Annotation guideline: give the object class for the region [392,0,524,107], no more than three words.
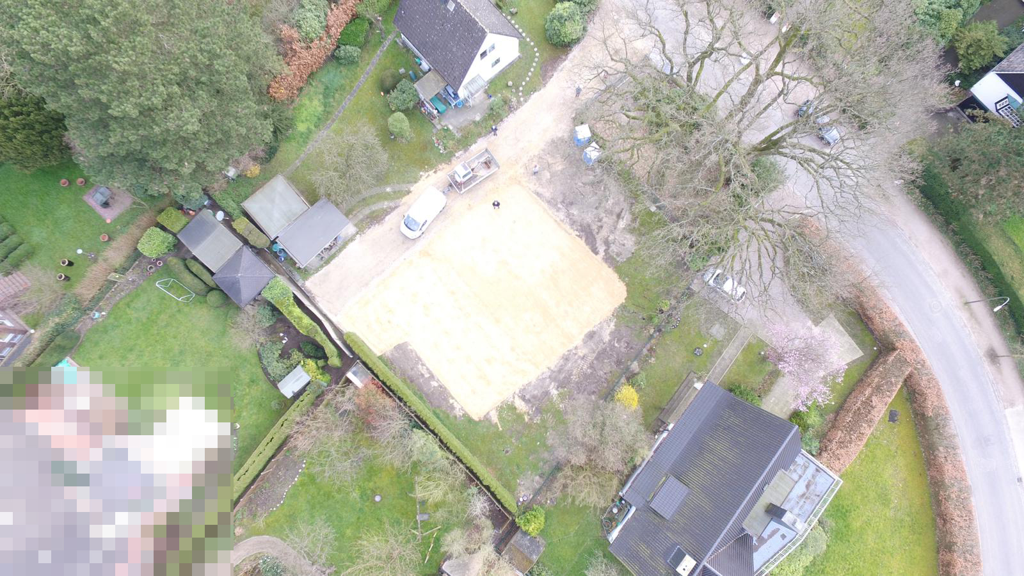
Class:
house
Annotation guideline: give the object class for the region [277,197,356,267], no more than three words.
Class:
shed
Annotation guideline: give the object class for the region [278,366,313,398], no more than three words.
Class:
shed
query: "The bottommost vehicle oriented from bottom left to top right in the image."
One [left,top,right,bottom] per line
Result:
[396,181,454,244]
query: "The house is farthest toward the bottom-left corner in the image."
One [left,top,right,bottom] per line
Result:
[0,406,172,576]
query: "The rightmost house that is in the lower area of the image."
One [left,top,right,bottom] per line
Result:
[602,382,844,576]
